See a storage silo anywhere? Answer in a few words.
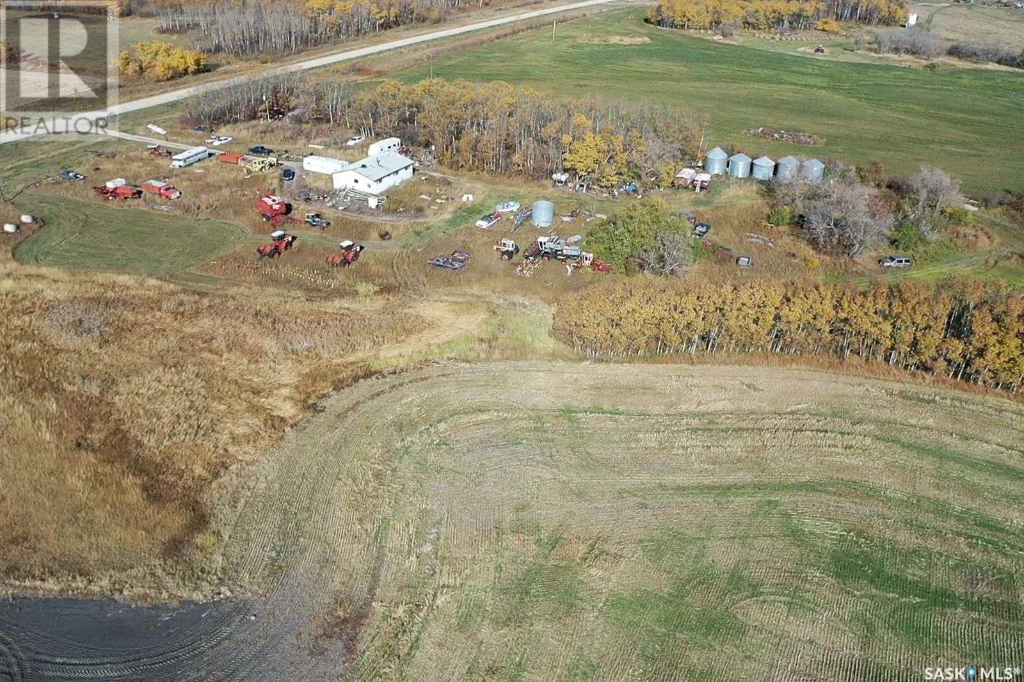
Yes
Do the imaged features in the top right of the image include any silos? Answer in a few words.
Yes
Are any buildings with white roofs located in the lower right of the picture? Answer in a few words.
No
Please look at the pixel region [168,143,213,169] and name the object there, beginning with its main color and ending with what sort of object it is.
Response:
white bus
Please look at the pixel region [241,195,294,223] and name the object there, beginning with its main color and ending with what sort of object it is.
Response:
red work vehicle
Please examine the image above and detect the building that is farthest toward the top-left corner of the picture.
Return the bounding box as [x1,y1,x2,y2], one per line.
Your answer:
[327,150,416,197]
